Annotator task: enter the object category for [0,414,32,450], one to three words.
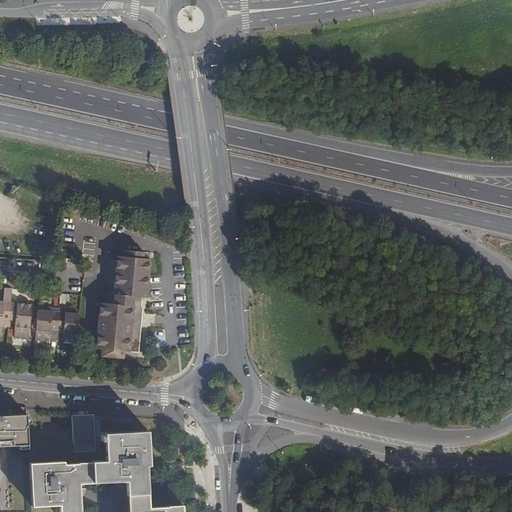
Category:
building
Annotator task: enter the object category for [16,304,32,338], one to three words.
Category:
house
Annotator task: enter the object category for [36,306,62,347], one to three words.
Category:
house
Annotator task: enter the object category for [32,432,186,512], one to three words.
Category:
building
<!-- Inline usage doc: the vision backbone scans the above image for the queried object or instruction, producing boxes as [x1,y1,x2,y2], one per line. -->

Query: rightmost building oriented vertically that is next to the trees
[98,252,152,359]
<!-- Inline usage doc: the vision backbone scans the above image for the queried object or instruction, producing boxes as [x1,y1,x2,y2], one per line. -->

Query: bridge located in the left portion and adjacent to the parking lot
[167,66,235,205]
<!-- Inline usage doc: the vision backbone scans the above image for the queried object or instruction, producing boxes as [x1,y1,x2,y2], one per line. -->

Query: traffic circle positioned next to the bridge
[164,0,217,45]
